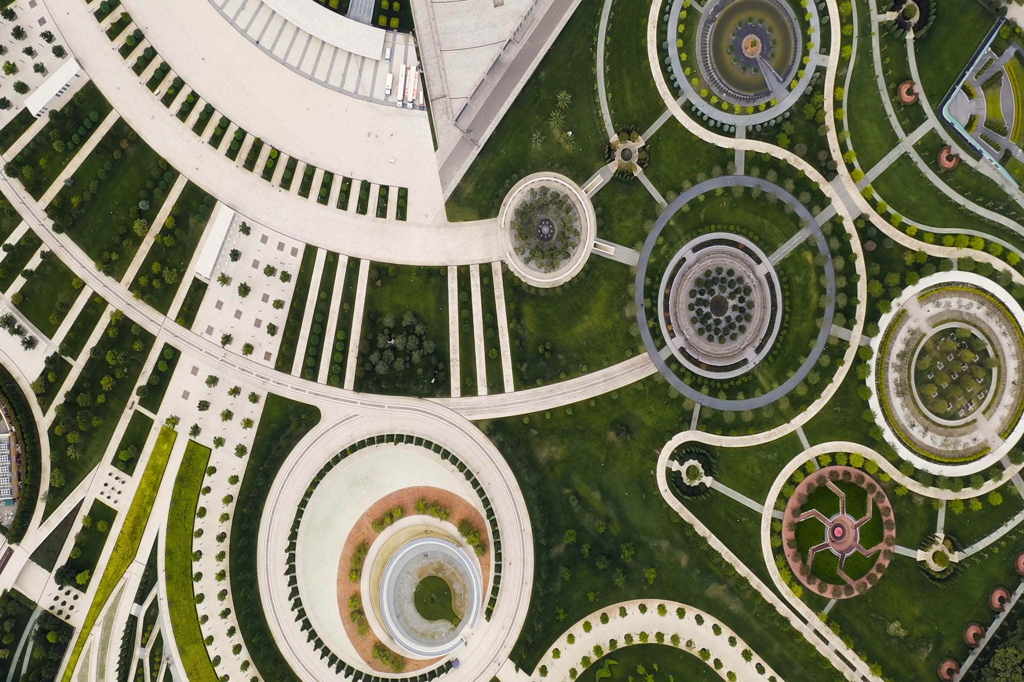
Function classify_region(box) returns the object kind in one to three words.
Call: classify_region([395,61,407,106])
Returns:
vehicle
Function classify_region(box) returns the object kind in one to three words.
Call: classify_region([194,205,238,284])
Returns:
building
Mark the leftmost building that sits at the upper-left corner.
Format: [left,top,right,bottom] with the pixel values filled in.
[24,57,87,120]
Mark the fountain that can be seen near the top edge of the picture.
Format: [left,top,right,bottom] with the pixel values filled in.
[695,0,802,107]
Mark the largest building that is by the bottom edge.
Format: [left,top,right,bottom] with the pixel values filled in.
[379,534,483,657]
